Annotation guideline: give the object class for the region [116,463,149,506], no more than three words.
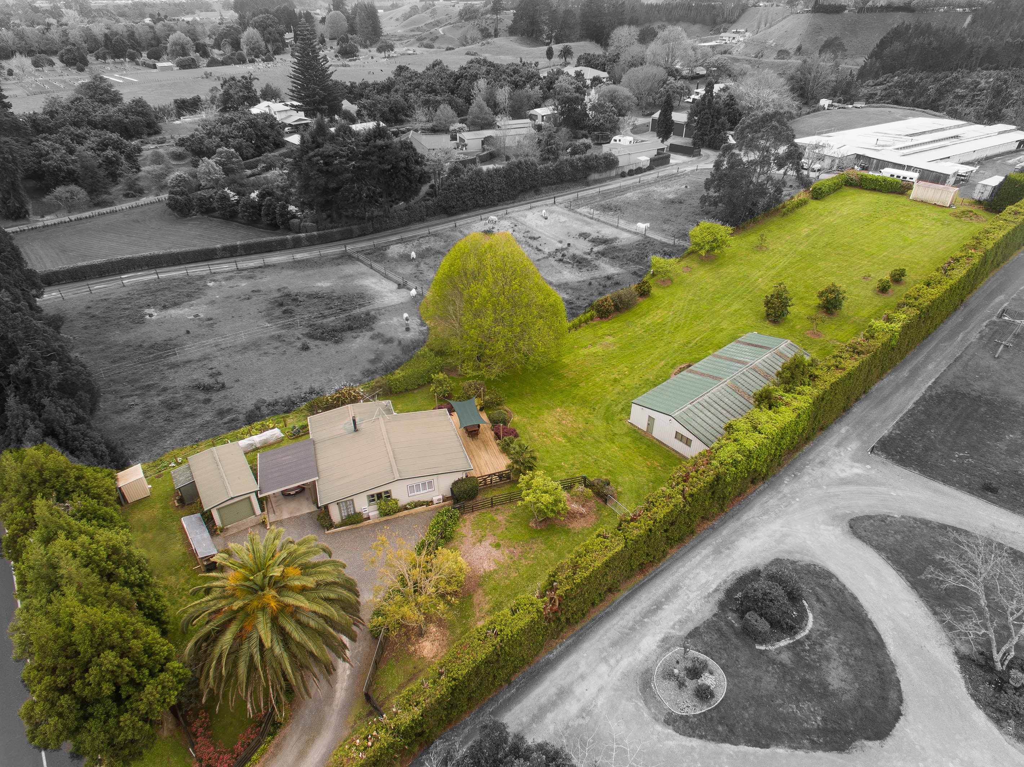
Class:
shed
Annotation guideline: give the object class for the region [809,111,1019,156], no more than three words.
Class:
shed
